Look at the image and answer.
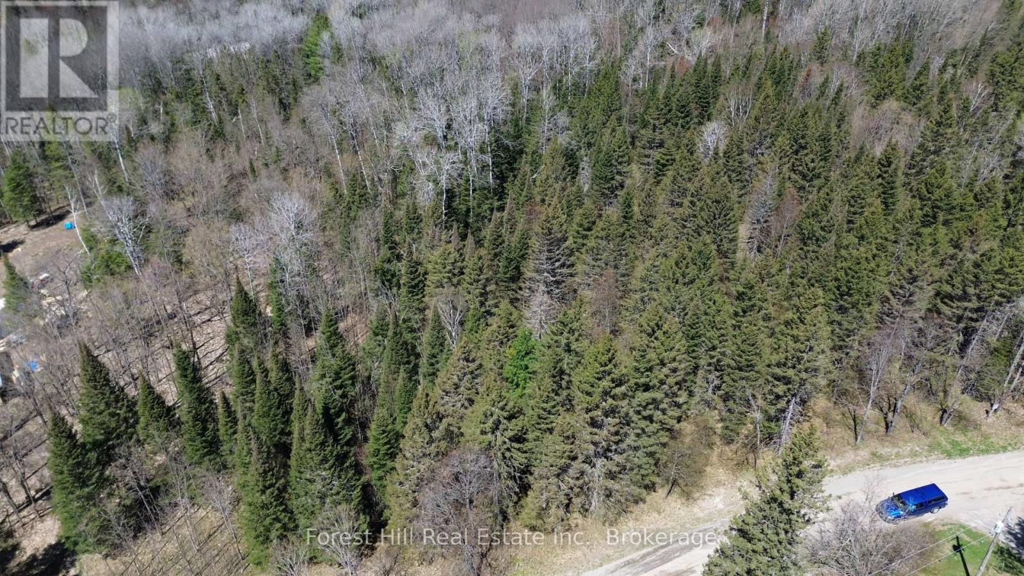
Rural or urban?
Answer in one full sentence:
It looks rural.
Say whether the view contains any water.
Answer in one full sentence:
No, the picture contains no water.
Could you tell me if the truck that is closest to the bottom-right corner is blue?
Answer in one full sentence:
Yes, the truck that is closest to the bottom-right corner is blue.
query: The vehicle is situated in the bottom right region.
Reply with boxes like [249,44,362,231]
[877,482,949,523]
